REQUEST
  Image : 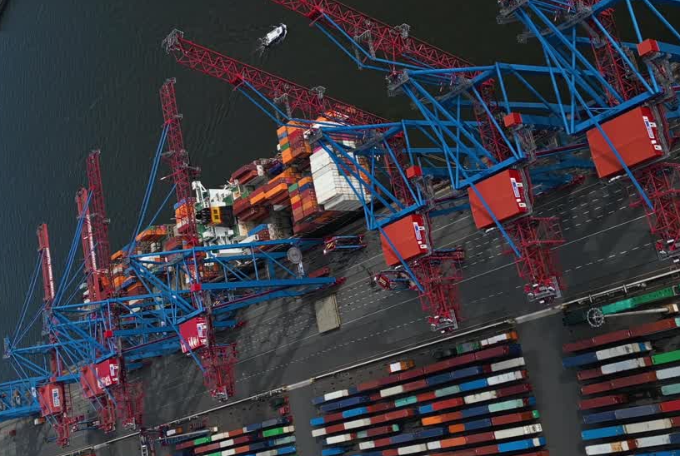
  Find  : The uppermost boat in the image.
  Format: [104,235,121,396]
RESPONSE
[258,26,284,51]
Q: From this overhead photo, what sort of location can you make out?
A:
port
